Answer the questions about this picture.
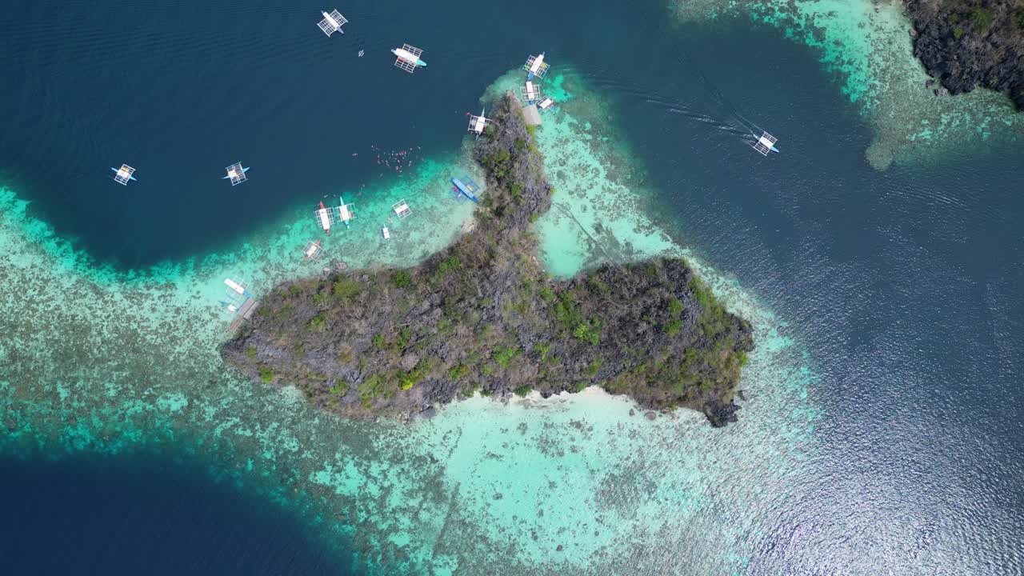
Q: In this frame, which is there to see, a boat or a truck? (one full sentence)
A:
Visible in the photo is a boat.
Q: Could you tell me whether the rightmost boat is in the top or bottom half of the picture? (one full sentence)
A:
Seen from above, the rightmost boat lies in the top half of the view.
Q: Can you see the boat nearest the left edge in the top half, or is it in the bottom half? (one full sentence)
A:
The boat nearest the left edge sits in the top half of the picture.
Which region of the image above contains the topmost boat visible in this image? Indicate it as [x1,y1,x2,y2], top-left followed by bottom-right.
[316,8,349,38]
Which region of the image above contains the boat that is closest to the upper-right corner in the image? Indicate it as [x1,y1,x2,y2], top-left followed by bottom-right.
[752,131,781,156]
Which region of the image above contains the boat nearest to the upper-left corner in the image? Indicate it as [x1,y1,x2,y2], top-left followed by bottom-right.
[109,163,136,186]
